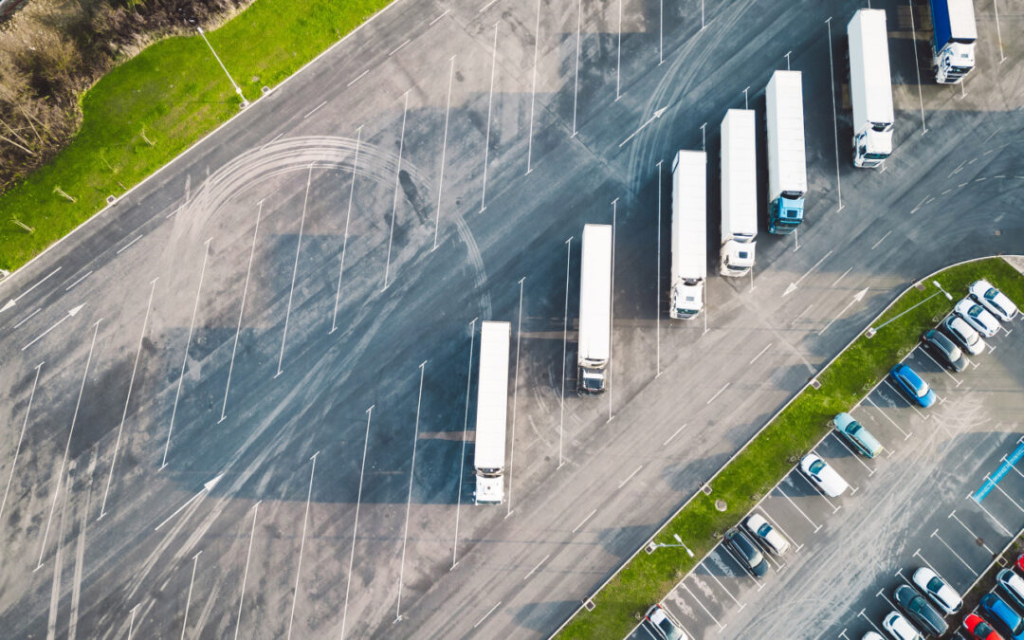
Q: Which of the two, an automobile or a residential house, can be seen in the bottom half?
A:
automobile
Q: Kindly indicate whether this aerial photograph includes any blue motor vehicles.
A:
Yes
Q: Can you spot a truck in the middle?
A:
Yes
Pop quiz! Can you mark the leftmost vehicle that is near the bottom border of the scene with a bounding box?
[644,599,692,640]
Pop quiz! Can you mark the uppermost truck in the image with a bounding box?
[926,0,977,84]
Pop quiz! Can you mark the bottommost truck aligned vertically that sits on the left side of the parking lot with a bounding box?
[471,318,509,505]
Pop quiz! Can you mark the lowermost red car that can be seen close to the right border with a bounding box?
[963,613,1006,640]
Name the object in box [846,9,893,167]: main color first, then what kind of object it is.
white truck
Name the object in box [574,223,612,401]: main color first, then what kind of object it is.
white truck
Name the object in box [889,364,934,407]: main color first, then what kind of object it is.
blue car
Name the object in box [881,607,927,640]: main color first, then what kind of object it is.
white car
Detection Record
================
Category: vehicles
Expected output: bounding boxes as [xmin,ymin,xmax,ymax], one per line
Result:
[912,567,963,616]
[644,599,692,640]
[574,223,612,401]
[721,526,771,579]
[926,0,977,84]
[963,613,1006,640]
[940,314,985,356]
[471,318,509,505]
[720,109,758,276]
[745,512,791,560]
[995,569,1024,611]
[970,282,1016,321]
[919,327,969,373]
[764,71,806,235]
[954,299,1000,339]
[980,596,1024,640]
[947,631,969,640]
[832,412,883,460]
[1015,556,1024,577]
[893,584,949,639]
[889,364,934,407]
[881,607,927,640]
[846,9,893,167]
[671,148,707,319]
[800,452,850,500]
